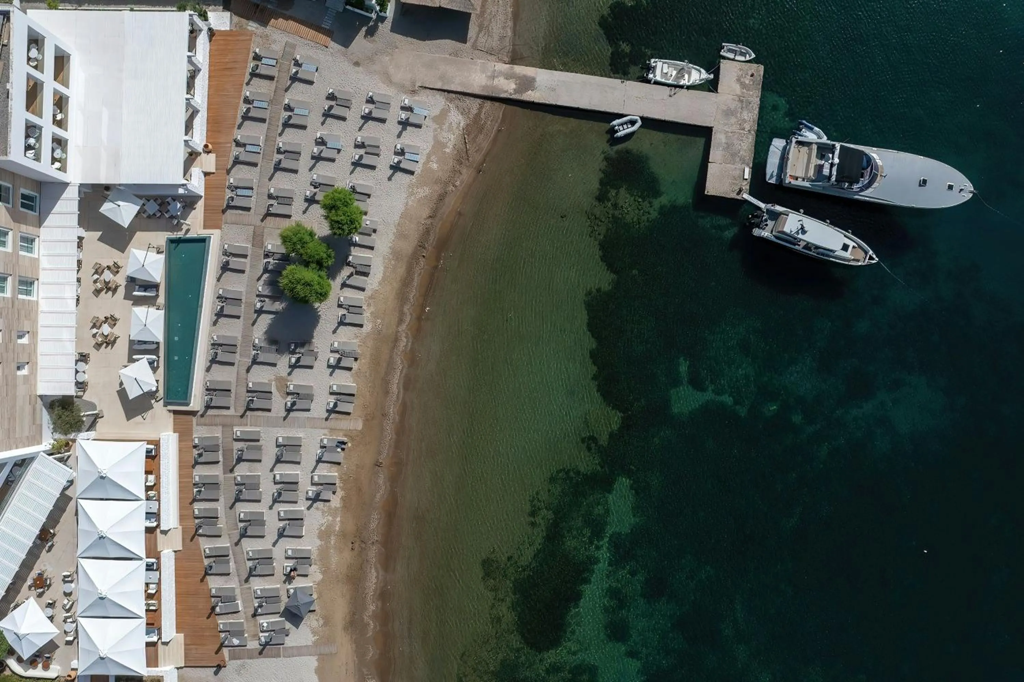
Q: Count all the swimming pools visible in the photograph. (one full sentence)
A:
In total, 1 swimming pool can be seen.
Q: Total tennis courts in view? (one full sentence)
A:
I count no tennis courts.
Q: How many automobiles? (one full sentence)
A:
The photo contains no automobiles.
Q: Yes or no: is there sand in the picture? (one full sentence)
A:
Yes, there's sand in this view.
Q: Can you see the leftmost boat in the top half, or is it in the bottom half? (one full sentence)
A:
The top half of the photo is where the leftmost boat is.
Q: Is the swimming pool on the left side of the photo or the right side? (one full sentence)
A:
The swimming pool appears in the left half of the scene.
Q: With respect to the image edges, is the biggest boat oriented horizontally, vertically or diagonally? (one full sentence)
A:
From this overhead view, the biggest boat appears to run horizontally.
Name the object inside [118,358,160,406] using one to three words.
umbrella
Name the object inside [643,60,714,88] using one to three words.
boat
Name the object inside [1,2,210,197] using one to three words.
building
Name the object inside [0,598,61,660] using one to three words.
umbrella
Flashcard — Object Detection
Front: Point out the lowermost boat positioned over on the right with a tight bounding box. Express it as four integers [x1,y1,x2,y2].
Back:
[744,205,879,262]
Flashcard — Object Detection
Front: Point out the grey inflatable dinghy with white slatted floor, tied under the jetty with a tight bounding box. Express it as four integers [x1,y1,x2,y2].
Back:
[611,117,642,138]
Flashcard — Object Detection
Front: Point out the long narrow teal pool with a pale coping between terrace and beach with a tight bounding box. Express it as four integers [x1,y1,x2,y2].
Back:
[163,233,224,411]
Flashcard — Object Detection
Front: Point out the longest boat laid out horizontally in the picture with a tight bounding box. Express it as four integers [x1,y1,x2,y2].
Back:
[764,137,977,208]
